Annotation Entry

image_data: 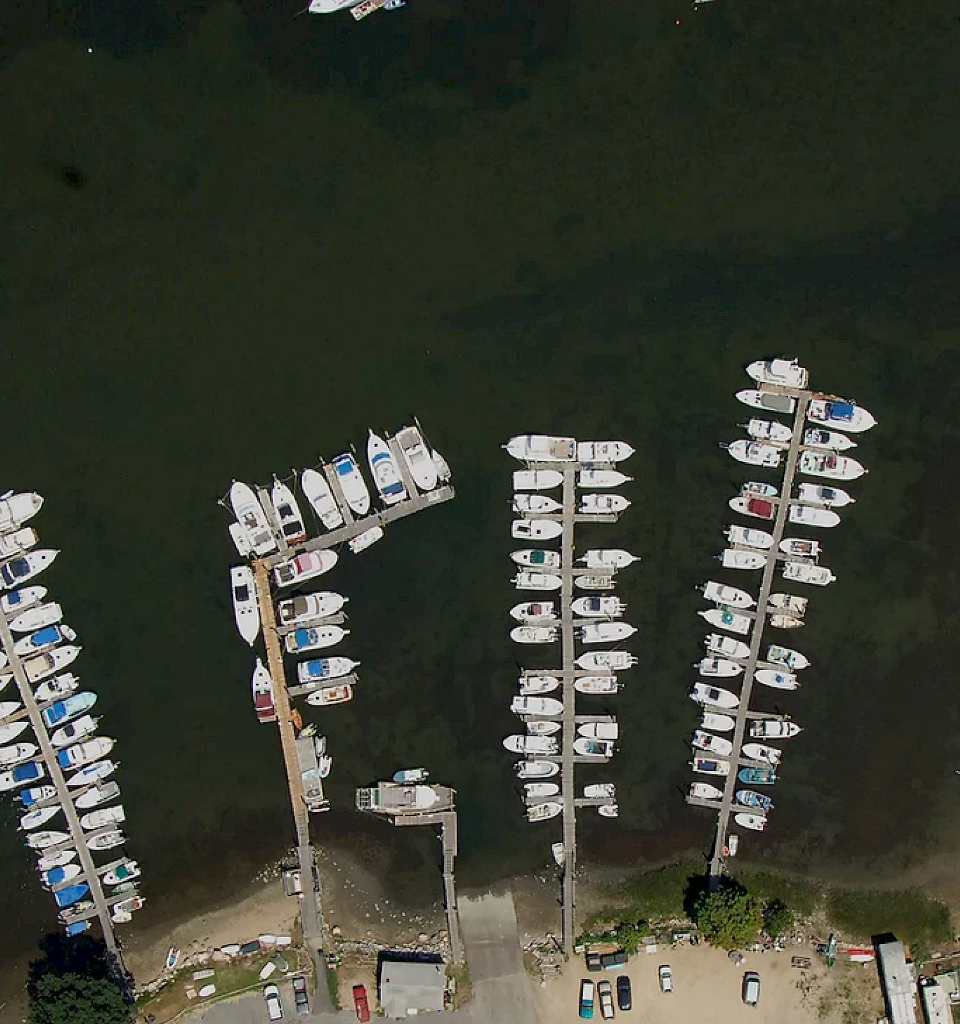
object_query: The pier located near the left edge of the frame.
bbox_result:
[0,552,141,989]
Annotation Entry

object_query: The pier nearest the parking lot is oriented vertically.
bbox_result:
[520,462,621,958]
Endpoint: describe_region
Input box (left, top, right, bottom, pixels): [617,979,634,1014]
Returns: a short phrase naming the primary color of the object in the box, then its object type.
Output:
black car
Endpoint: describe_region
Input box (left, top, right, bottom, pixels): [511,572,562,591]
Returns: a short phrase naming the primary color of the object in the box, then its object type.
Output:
white boat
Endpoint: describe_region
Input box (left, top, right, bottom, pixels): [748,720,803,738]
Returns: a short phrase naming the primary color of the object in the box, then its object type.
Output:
white boat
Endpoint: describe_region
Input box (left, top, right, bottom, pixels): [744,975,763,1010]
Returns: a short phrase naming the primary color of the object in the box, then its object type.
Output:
white vehicle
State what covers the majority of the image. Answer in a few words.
water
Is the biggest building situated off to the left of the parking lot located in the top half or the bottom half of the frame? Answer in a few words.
bottom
